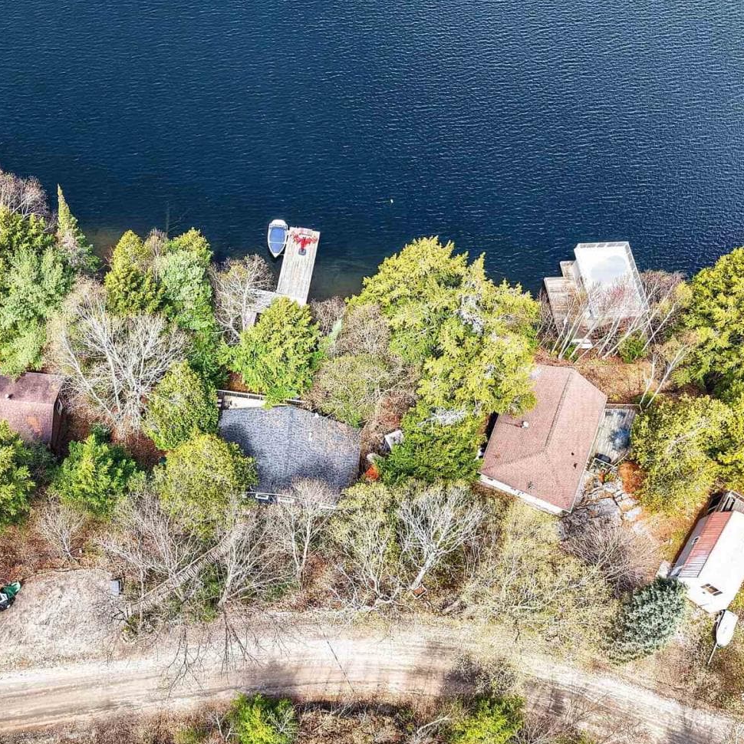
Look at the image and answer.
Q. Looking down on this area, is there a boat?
Yes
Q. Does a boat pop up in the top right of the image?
No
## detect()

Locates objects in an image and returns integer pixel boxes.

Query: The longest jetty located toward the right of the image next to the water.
[543,274,586,332]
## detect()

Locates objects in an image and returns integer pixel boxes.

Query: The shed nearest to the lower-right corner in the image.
[669,510,744,615]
